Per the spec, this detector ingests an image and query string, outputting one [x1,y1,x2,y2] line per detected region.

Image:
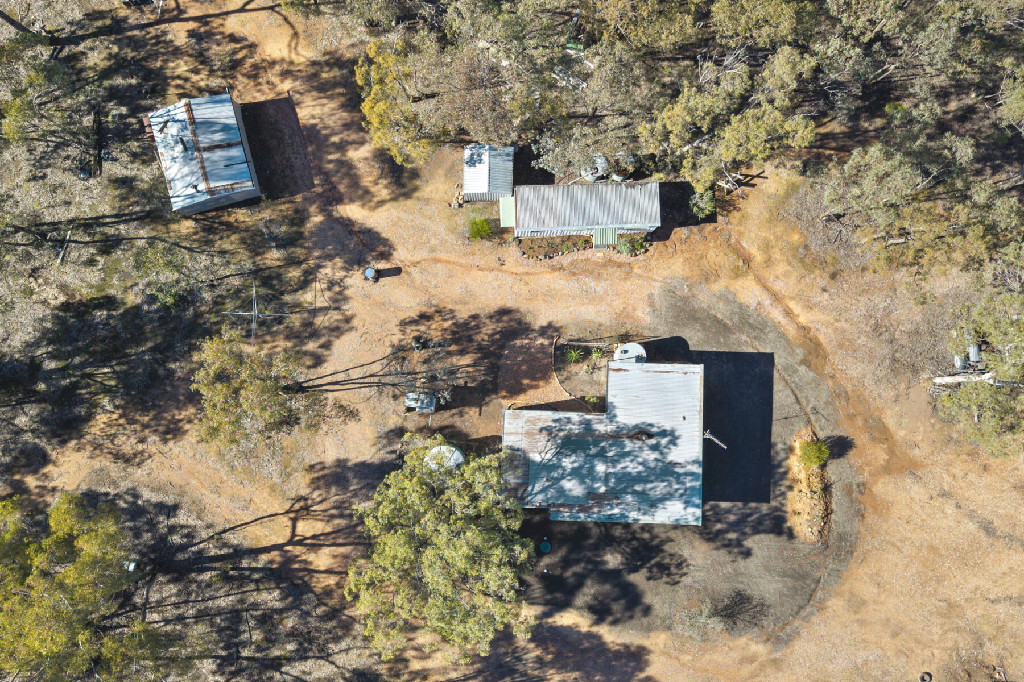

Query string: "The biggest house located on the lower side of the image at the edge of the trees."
[500,362,706,526]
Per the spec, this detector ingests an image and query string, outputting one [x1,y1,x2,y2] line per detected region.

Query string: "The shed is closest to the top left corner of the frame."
[149,94,262,215]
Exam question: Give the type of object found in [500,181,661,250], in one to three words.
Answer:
building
